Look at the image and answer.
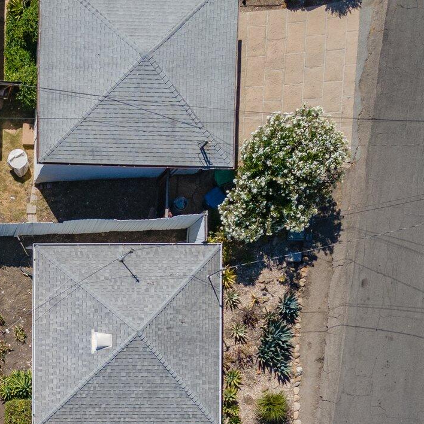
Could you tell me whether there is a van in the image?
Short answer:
No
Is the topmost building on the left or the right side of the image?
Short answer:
left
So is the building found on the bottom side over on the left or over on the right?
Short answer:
left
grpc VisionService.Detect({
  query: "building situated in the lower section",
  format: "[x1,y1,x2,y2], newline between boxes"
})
[29,240,225,424]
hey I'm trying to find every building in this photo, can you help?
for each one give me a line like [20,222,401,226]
[34,0,240,182]
[29,240,225,424]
